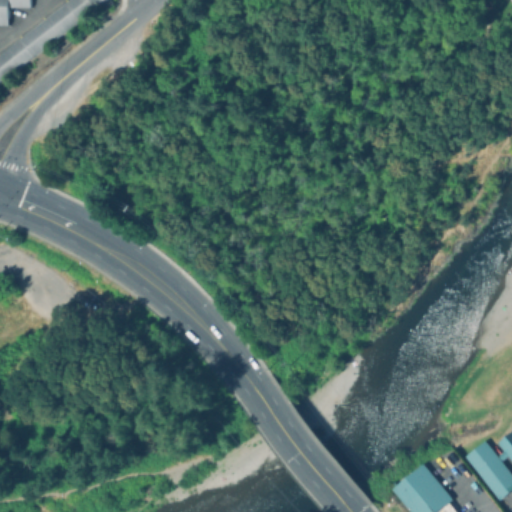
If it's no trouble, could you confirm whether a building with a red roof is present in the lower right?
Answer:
No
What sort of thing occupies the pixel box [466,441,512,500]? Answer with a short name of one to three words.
building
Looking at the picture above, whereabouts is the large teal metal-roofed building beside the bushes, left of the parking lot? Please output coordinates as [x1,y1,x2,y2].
[393,464,453,512]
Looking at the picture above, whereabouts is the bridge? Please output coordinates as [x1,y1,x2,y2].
[234,361,379,512]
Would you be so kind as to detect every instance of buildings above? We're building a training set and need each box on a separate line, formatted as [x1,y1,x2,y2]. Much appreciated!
[10,0,32,9]
[393,464,453,512]
[466,441,512,500]
[0,0,9,26]
[498,432,512,463]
